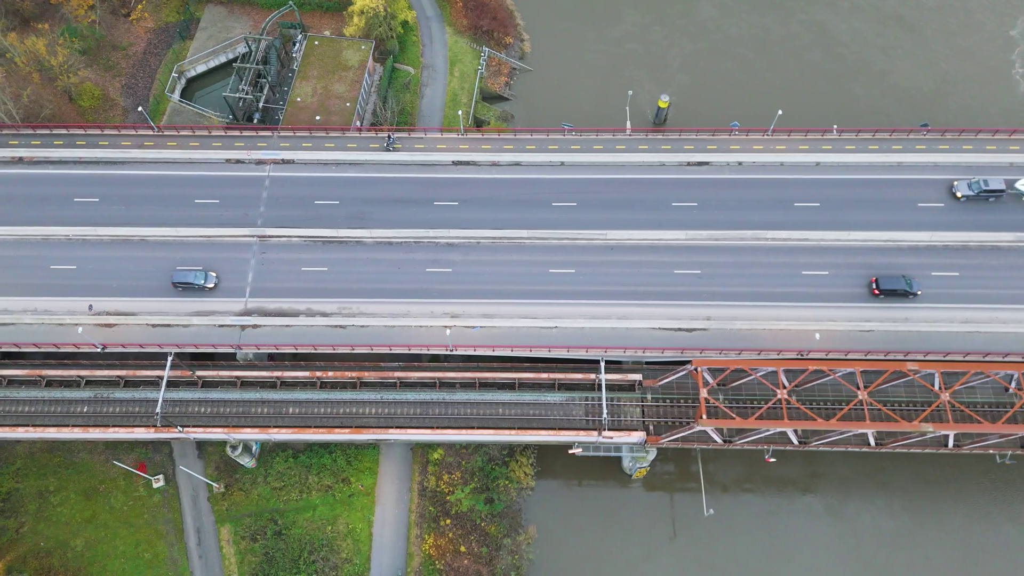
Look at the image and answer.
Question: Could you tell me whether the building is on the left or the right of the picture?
left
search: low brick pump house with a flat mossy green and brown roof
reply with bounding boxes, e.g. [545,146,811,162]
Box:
[278,34,380,127]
